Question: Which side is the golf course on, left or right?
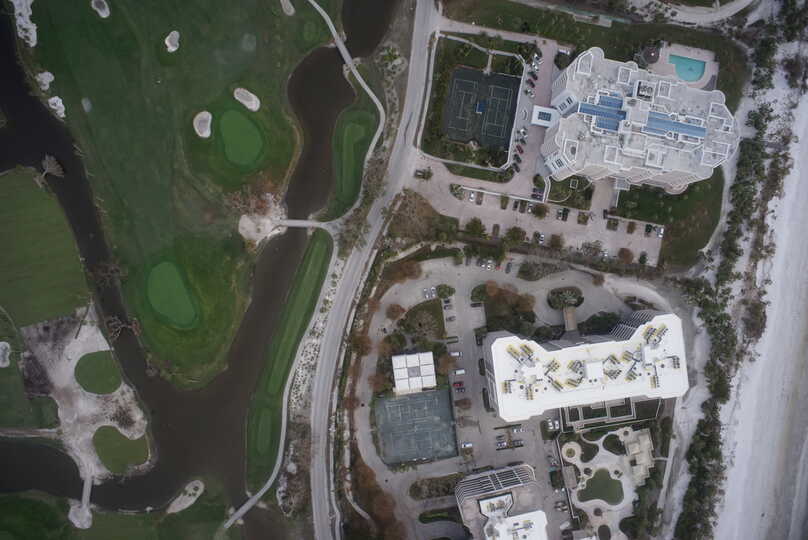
left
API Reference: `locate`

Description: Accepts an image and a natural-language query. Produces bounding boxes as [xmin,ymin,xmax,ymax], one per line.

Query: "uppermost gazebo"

[642,47,659,64]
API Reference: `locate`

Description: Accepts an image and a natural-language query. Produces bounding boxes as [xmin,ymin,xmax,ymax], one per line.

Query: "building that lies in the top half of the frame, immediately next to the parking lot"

[534,46,742,198]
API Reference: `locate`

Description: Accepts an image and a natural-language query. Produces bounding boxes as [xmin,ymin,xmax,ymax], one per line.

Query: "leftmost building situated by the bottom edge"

[458,466,547,540]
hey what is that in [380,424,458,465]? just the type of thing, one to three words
tennis court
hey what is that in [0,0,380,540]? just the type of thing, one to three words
golf course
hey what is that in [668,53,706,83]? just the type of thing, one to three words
swimming pool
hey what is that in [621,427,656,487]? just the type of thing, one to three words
building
